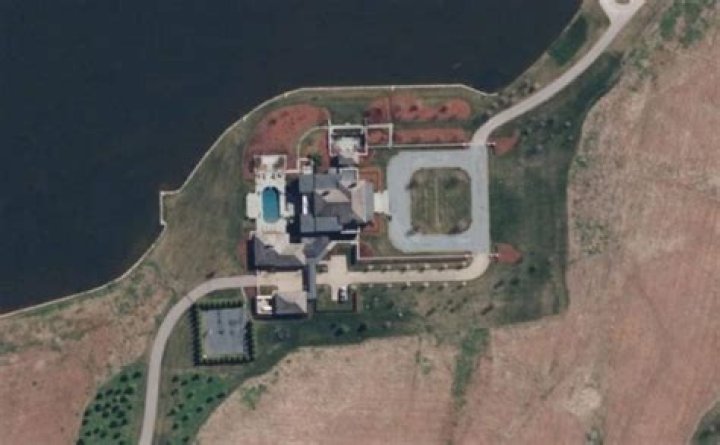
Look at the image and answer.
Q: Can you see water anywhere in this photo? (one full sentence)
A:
Yes, there's water in this view.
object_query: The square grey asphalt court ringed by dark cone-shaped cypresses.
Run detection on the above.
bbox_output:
[203,307,247,359]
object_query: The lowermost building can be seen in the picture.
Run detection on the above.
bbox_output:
[276,292,307,314]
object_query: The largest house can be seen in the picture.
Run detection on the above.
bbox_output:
[298,168,374,233]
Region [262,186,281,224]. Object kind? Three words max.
swimming pool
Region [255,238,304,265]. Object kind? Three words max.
building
